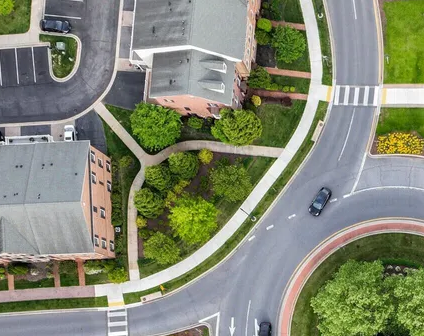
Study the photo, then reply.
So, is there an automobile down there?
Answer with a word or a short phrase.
Yes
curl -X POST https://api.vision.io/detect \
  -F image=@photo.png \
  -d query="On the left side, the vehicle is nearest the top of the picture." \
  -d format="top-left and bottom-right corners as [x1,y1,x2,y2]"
[41,17,74,35]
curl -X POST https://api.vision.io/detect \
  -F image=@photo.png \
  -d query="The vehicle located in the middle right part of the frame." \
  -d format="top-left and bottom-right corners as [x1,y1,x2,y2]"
[309,185,332,218]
